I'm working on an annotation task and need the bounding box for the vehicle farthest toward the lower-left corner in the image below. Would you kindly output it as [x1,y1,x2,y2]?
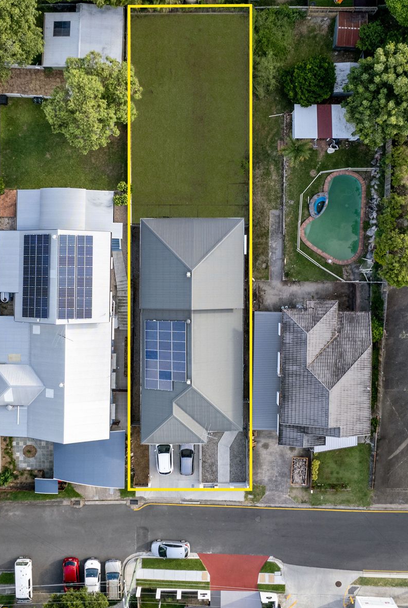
[11,553,35,604]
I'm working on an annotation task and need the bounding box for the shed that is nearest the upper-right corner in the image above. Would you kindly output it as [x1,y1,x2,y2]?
[333,11,367,54]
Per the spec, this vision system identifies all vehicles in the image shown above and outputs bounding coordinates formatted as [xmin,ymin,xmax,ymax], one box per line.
[101,552,124,607]
[175,444,197,475]
[81,554,104,602]
[11,553,35,604]
[153,444,176,476]
[60,555,82,599]
[150,537,191,561]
